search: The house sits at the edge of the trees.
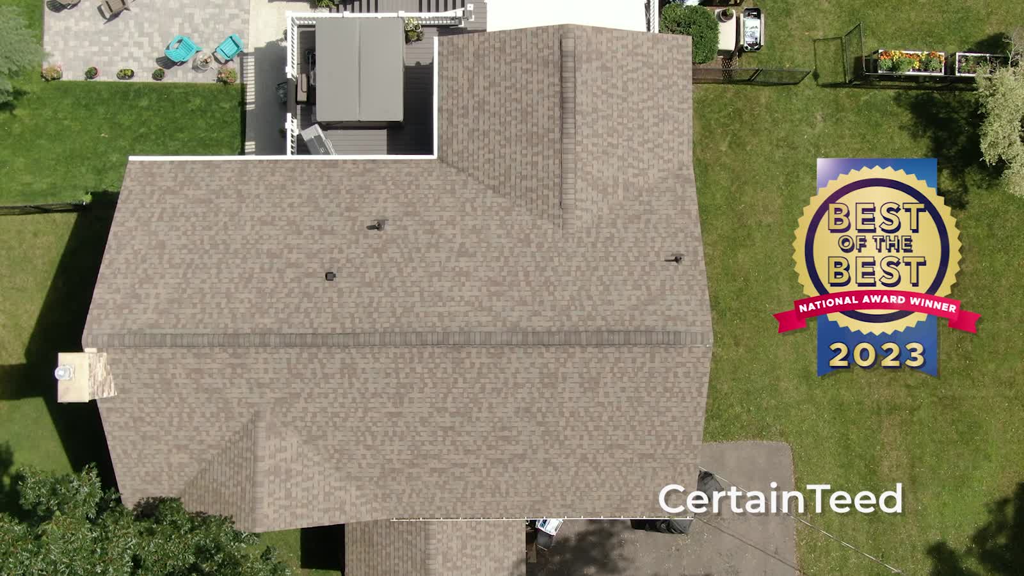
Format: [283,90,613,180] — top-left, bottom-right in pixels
[57,25,713,576]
